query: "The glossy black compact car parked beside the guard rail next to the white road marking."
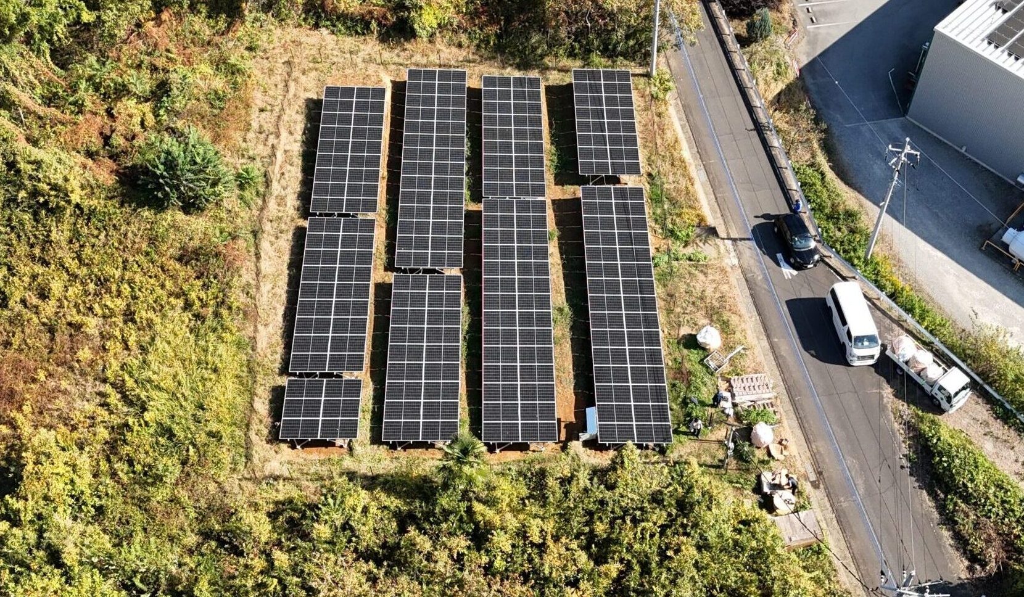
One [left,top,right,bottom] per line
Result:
[771,213,820,275]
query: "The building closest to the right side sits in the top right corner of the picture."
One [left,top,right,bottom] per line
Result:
[904,0,1024,187]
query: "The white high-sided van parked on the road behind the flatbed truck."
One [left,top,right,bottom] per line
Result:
[826,276,882,366]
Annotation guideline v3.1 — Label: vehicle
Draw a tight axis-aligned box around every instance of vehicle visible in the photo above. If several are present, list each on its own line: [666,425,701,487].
[771,213,820,275]
[878,324,984,420]
[826,276,882,366]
